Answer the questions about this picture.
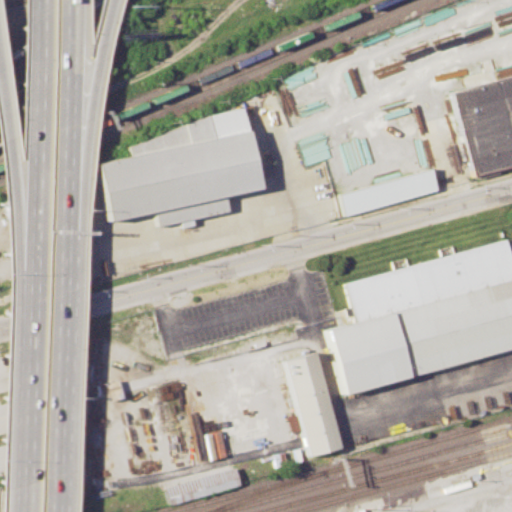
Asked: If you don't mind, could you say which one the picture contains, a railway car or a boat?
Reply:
railway car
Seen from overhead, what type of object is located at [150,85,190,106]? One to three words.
rail car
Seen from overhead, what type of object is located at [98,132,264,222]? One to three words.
building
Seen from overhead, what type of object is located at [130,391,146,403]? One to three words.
vehicle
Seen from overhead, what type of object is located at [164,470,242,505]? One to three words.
shed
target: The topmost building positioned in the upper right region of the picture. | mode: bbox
[452,78,512,176]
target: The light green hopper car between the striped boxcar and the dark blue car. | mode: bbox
[321,12,362,31]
